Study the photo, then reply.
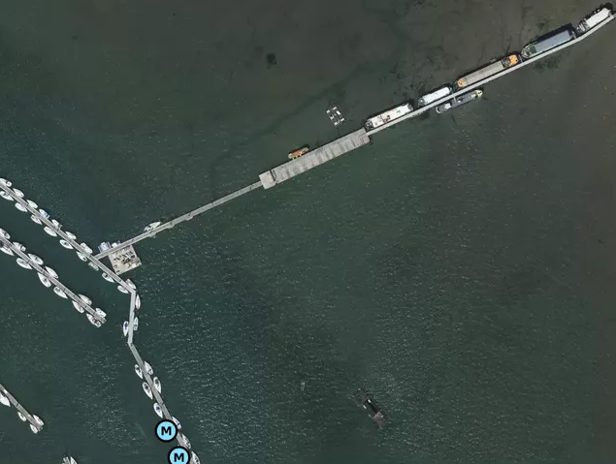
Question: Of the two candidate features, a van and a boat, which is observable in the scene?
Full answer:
There is a boat in the scene.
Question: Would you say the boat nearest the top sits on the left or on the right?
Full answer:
It is on the right.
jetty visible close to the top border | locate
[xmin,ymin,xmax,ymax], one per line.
[366,14,616,136]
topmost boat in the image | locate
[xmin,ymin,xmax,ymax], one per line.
[576,5,614,33]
